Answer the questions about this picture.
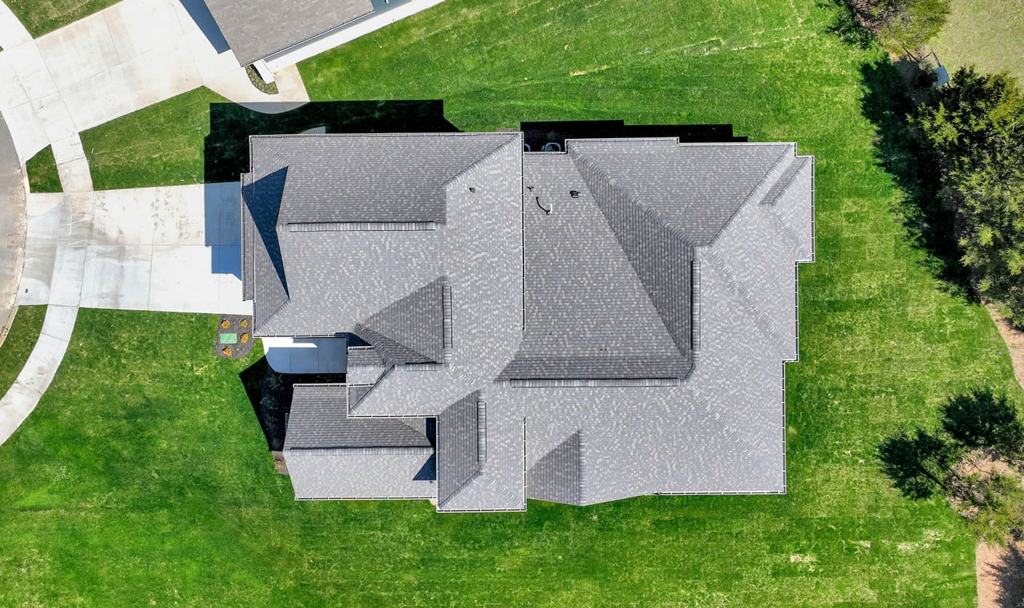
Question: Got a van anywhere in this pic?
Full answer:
No, there is no van in the image.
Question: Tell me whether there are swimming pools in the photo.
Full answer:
No, I find no swimming pool anywhere in the image.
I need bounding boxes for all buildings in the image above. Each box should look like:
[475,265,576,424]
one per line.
[207,0,420,66]
[241,132,815,511]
